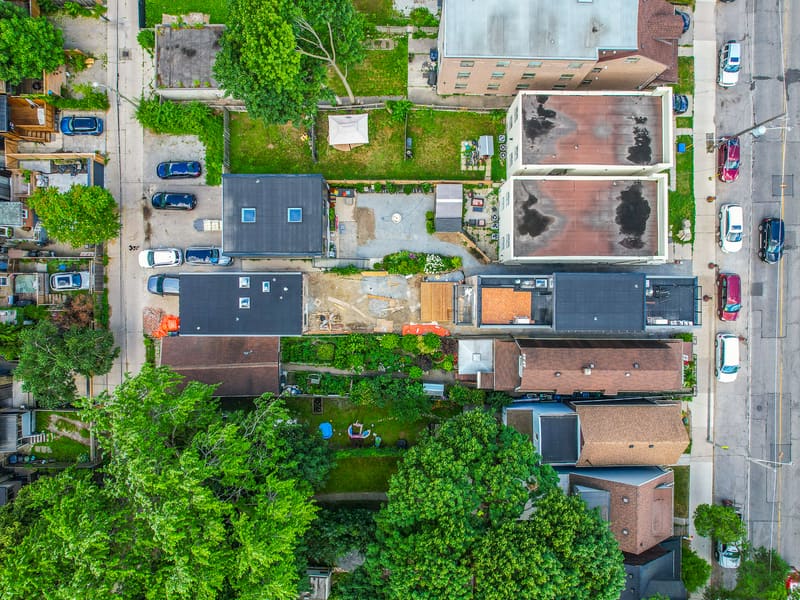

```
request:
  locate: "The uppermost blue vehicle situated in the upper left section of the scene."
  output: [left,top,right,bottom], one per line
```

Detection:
[60,113,105,138]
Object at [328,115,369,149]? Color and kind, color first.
white gazebo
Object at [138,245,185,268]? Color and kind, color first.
white car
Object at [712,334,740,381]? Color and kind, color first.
white car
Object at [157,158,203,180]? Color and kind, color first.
blue car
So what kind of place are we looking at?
residential area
